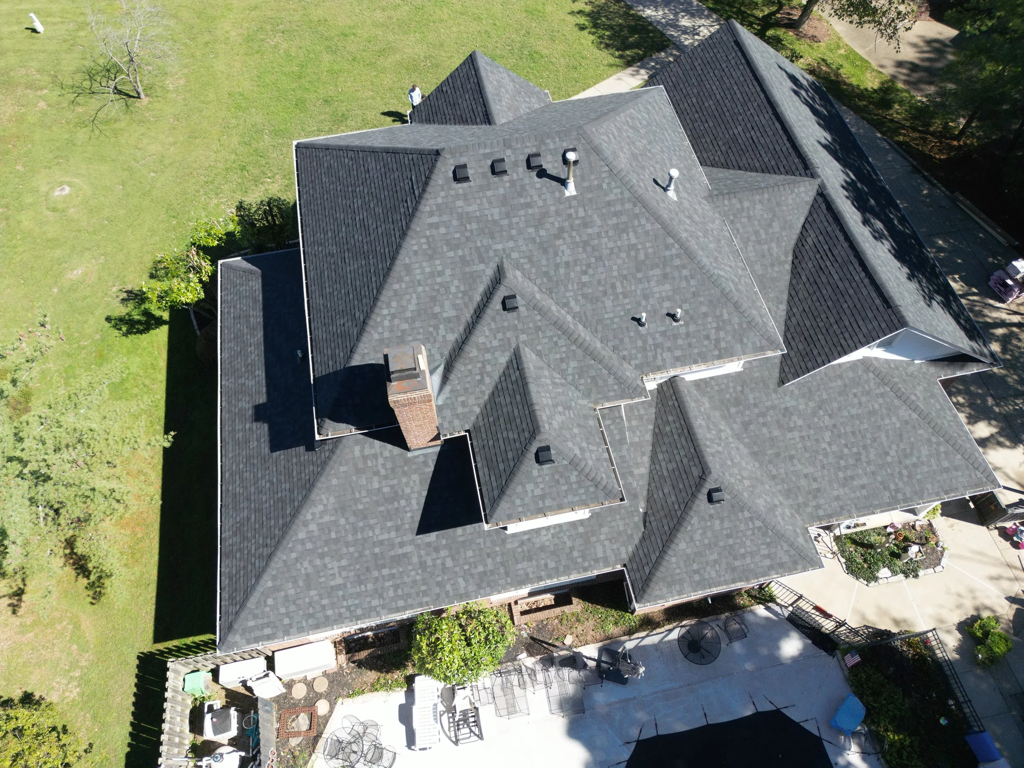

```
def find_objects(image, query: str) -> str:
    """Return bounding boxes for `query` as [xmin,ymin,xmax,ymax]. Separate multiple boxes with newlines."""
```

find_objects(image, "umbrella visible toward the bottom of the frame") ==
[598,638,645,692]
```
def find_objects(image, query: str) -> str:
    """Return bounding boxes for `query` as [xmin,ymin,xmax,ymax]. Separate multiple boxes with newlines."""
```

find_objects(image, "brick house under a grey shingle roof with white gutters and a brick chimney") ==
[217,17,1003,656]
